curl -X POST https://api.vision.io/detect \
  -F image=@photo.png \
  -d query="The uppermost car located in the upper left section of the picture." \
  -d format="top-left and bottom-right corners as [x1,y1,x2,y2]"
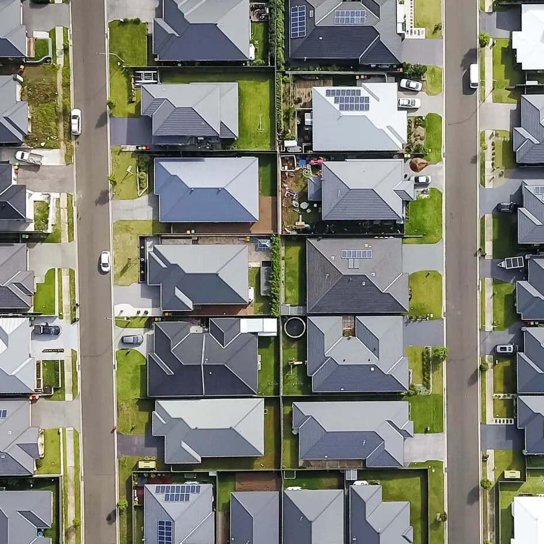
[69,109,83,134]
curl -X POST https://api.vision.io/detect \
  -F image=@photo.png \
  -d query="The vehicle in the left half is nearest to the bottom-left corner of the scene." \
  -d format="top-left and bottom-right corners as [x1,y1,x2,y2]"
[35,321,62,335]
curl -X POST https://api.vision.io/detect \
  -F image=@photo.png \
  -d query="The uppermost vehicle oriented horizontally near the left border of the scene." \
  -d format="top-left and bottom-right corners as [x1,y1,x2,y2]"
[16,150,44,164]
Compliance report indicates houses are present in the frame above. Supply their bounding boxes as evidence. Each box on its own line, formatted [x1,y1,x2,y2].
[152,399,265,465]
[141,83,238,147]
[231,492,279,544]
[513,95,544,165]
[511,495,544,544]
[516,256,544,319]
[0,164,32,220]
[307,237,409,313]
[0,317,39,394]
[517,327,544,393]
[282,485,344,544]
[312,83,408,152]
[0,400,42,476]
[288,0,402,66]
[0,243,37,309]
[143,483,215,544]
[0,75,32,144]
[307,316,409,392]
[350,480,413,544]
[148,244,249,311]
[152,0,250,61]
[307,160,415,220]
[517,179,544,244]
[511,3,544,70]
[0,0,30,59]
[0,491,56,544]
[292,401,413,467]
[517,395,544,454]
[148,318,278,396]
[154,157,259,223]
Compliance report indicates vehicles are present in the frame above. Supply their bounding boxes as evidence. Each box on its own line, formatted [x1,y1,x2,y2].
[410,175,432,185]
[495,344,517,354]
[99,252,110,271]
[496,202,518,212]
[468,62,479,89]
[16,150,44,164]
[120,334,144,345]
[35,321,62,335]
[69,109,83,134]
[400,79,424,92]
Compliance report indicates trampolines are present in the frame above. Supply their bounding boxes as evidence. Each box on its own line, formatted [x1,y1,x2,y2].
[311,220,327,236]
[284,317,307,338]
